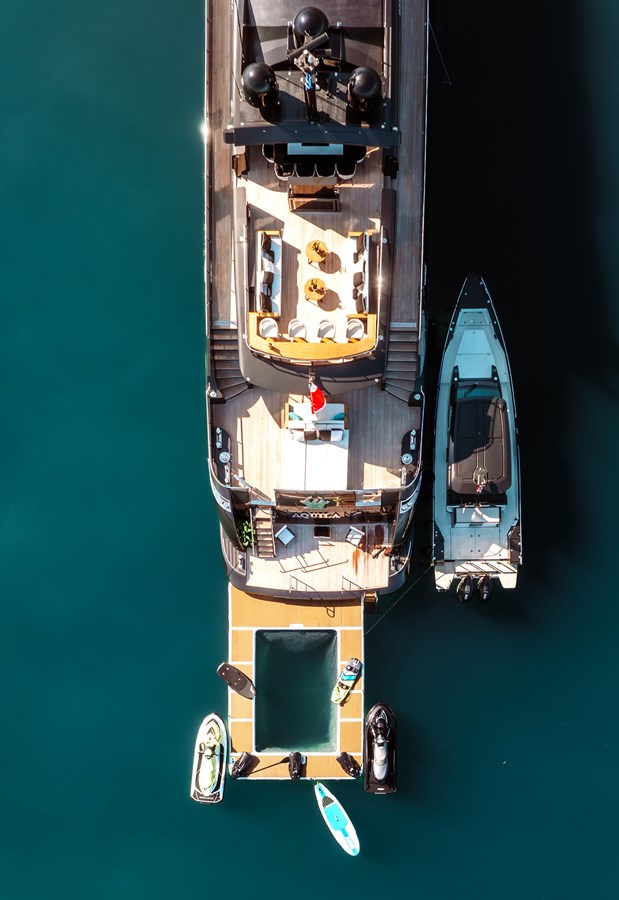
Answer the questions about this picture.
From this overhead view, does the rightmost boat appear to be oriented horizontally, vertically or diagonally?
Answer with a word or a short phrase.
vertically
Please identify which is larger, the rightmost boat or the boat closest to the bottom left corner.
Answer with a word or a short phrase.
the rightmost boat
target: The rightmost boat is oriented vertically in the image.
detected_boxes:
[432,273,522,602]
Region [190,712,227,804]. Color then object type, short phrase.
white boat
